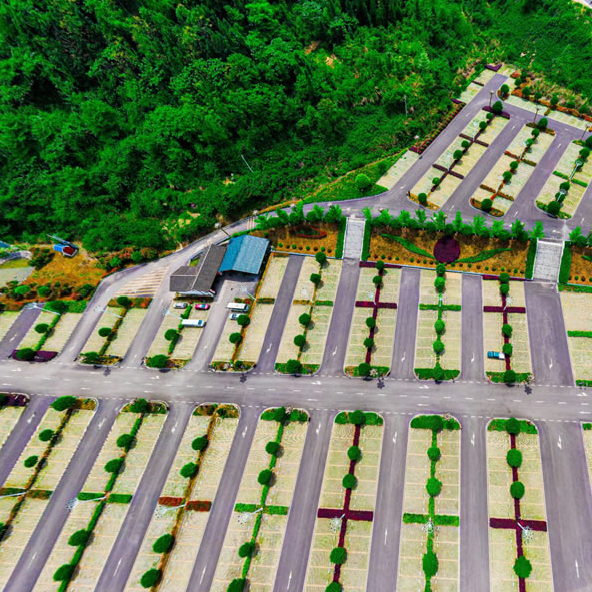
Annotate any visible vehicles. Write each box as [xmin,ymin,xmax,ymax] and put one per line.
[172,303,189,310]
[225,304,250,313]
[181,319,206,329]
[487,351,505,359]
[228,314,242,321]
[193,303,210,311]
